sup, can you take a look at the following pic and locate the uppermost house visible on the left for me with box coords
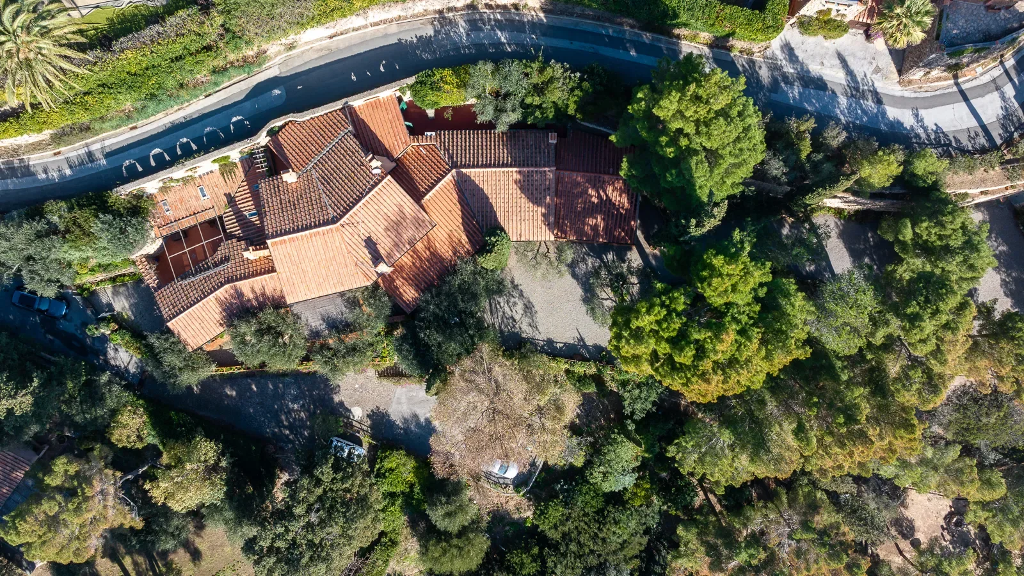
[133,94,640,350]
